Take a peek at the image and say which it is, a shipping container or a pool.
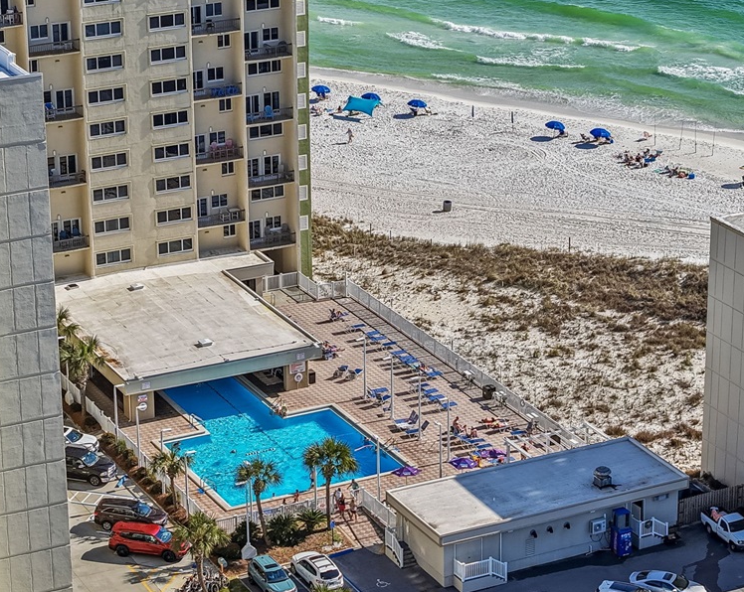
pool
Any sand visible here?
Yes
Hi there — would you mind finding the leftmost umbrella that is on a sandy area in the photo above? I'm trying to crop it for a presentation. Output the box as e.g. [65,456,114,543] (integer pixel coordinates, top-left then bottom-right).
[310,84,332,100]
